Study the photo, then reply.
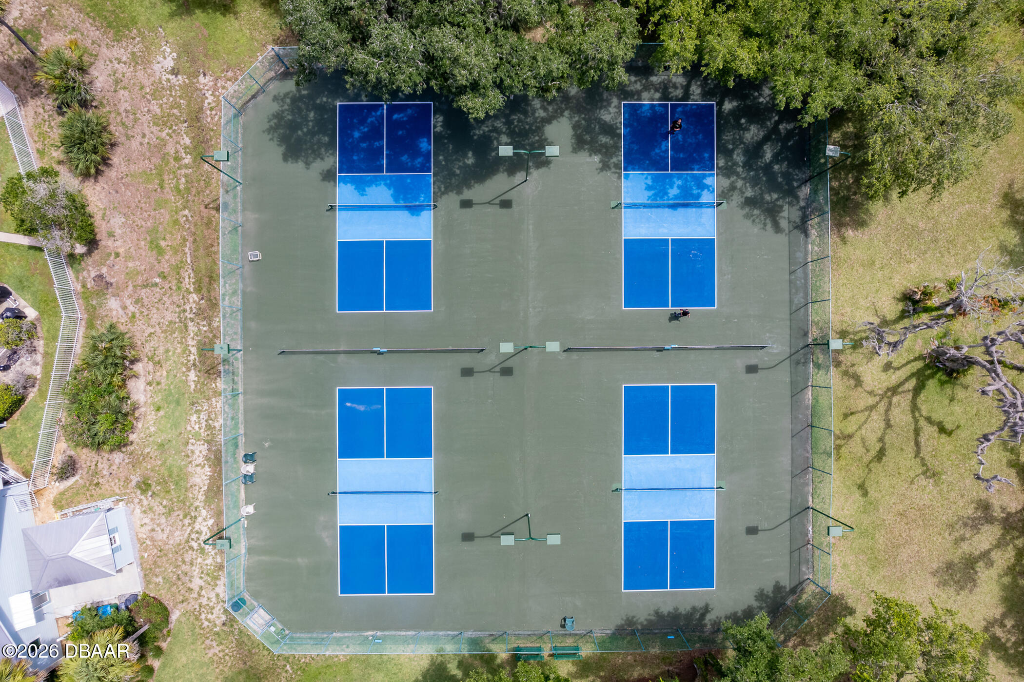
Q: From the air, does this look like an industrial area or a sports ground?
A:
sports ground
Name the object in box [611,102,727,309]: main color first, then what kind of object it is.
blue sports court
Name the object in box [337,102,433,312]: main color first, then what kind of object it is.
blue sports court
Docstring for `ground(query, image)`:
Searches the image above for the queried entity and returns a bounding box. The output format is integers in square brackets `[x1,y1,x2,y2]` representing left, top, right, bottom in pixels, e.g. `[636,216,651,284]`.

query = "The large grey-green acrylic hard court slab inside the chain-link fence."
[237,71,813,636]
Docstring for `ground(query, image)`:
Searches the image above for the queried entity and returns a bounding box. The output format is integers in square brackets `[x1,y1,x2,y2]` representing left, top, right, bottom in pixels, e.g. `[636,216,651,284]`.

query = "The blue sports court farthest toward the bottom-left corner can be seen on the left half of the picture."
[337,387,434,595]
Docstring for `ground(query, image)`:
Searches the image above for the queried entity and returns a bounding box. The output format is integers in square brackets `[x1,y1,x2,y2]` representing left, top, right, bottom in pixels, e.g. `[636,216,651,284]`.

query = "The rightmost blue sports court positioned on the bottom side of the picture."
[612,384,725,591]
